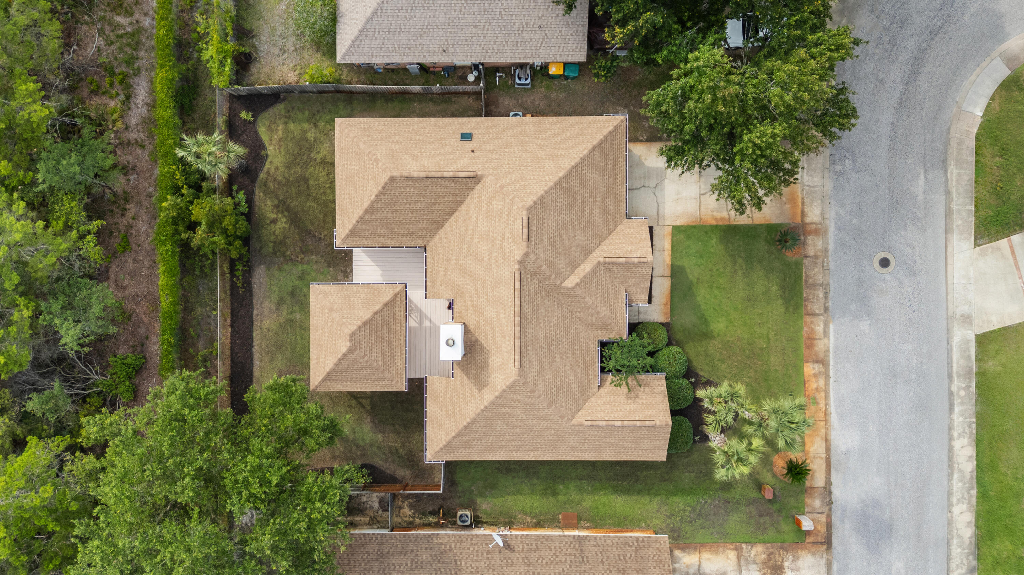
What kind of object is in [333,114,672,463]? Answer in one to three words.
house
